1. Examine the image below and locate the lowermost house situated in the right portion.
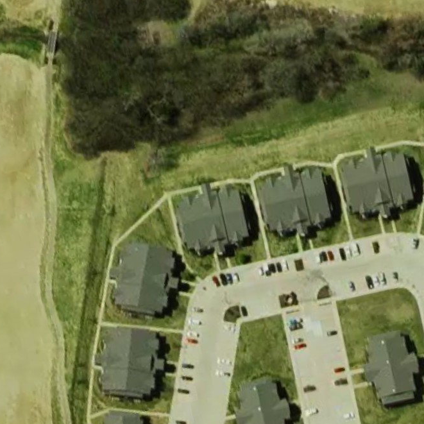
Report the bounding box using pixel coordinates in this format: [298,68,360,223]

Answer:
[229,387,300,424]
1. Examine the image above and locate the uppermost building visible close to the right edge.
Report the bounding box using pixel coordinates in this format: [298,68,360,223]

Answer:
[339,148,413,219]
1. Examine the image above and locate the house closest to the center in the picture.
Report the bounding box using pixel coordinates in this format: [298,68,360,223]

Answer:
[175,183,249,254]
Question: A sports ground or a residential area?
residential area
